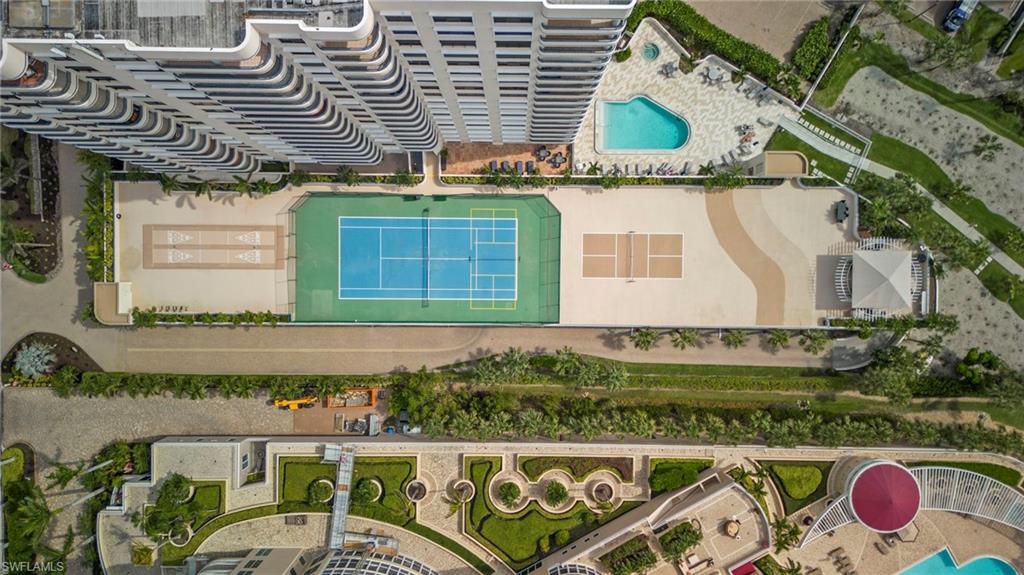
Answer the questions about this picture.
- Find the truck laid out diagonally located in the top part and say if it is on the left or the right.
right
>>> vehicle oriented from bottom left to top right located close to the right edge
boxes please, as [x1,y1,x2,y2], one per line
[941,0,984,34]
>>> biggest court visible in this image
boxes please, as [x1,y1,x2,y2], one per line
[296,192,560,324]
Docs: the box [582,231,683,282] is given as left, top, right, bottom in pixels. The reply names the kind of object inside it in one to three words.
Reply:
sports court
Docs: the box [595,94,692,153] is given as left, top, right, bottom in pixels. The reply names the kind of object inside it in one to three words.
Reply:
swimming pool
